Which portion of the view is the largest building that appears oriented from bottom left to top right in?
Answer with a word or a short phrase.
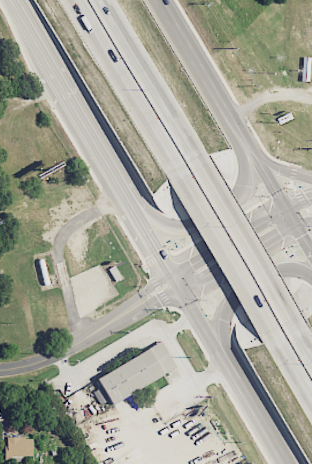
bottom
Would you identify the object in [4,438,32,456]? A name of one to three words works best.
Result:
house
